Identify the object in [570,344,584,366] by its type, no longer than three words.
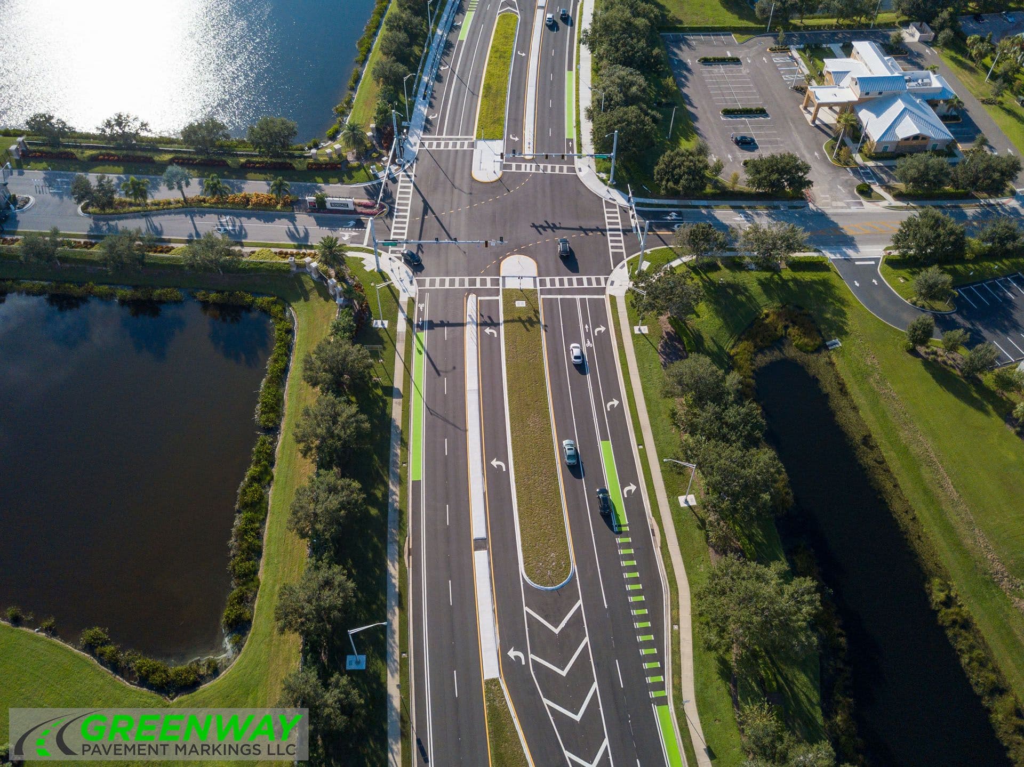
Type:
car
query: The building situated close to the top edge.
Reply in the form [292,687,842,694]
[797,35,954,153]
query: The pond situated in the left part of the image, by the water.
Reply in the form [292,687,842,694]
[0,287,286,692]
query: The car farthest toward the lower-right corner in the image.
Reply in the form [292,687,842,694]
[596,490,613,520]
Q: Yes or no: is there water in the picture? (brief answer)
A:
Yes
